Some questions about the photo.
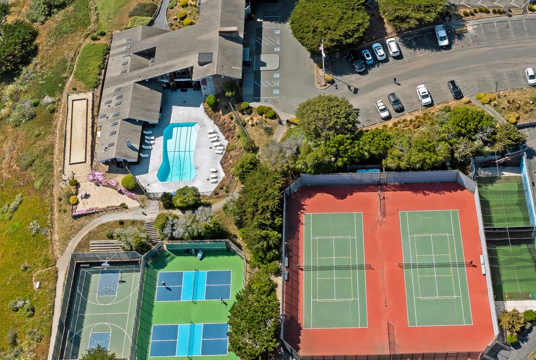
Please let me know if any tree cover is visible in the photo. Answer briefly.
Yes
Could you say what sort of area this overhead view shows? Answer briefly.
sports ground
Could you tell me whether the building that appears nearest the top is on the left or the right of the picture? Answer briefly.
left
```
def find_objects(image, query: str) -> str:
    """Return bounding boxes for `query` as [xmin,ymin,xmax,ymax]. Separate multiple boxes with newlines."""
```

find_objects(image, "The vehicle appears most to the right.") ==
[524,67,536,86]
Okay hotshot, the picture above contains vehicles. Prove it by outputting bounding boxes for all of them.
[447,79,462,98]
[387,38,400,56]
[360,48,372,65]
[524,67,536,86]
[388,93,403,112]
[346,50,364,72]
[374,100,390,119]
[416,85,431,105]
[435,24,449,46]
[371,43,386,61]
